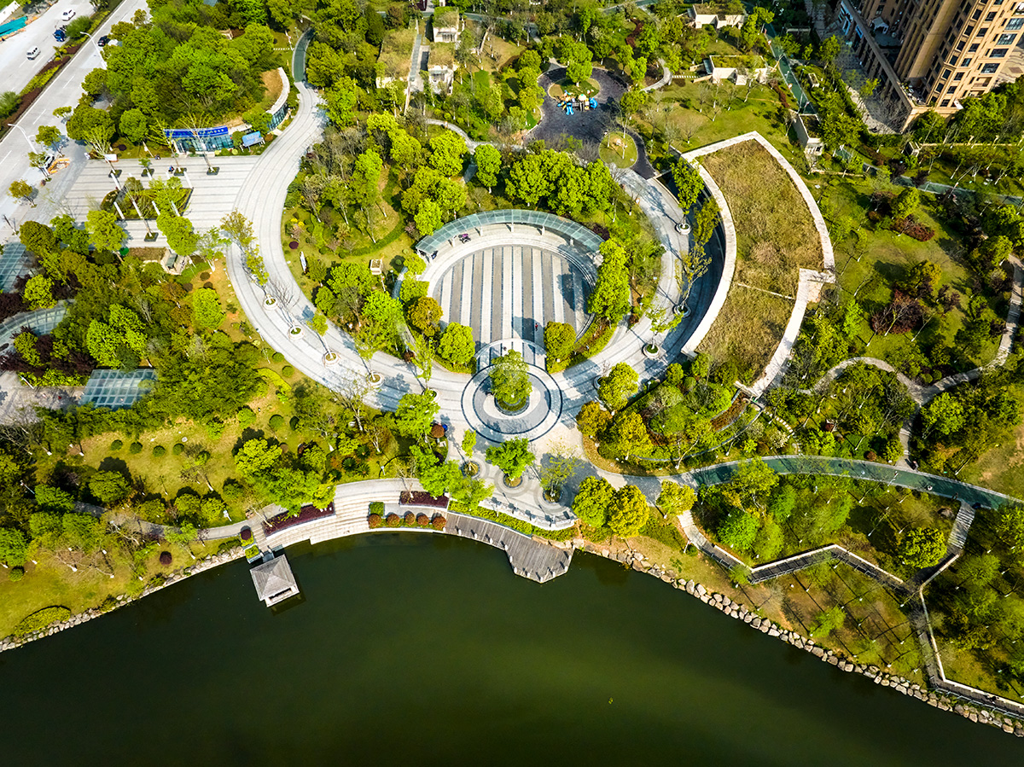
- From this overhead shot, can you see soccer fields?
No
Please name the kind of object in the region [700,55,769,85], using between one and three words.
house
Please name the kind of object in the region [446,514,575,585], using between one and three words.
pier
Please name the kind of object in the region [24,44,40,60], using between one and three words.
vehicle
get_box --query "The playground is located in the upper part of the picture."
[523,67,656,179]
